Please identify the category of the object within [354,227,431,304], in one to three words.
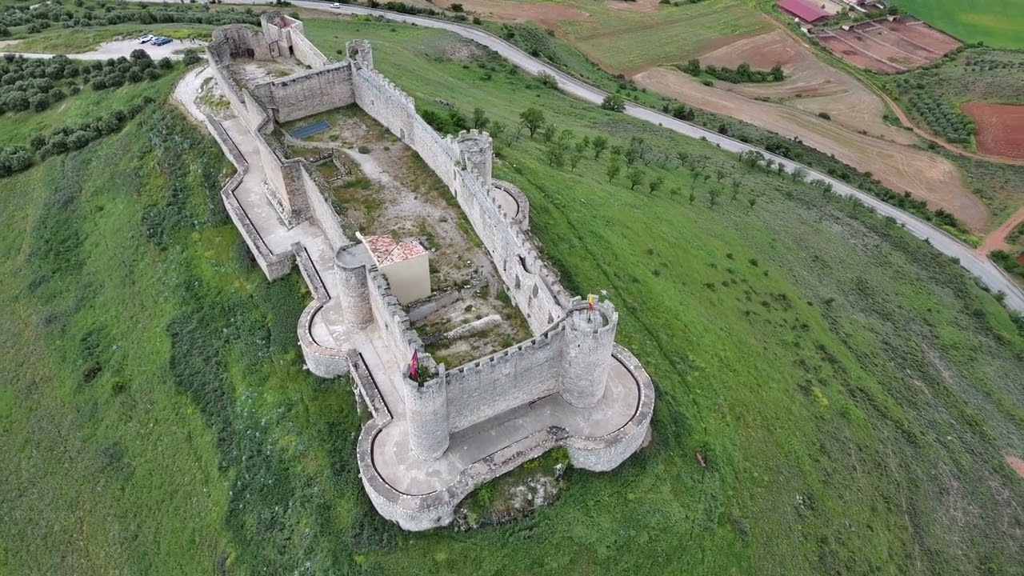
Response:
house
